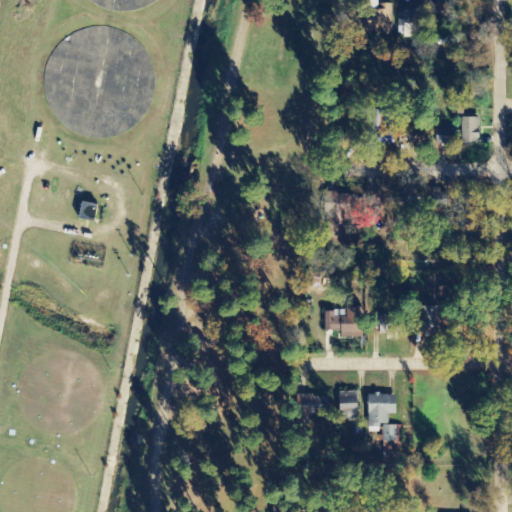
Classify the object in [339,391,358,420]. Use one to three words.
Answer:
house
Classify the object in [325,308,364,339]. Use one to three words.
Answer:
house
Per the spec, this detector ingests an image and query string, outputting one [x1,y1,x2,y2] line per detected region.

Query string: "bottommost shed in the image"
[383,424,402,442]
